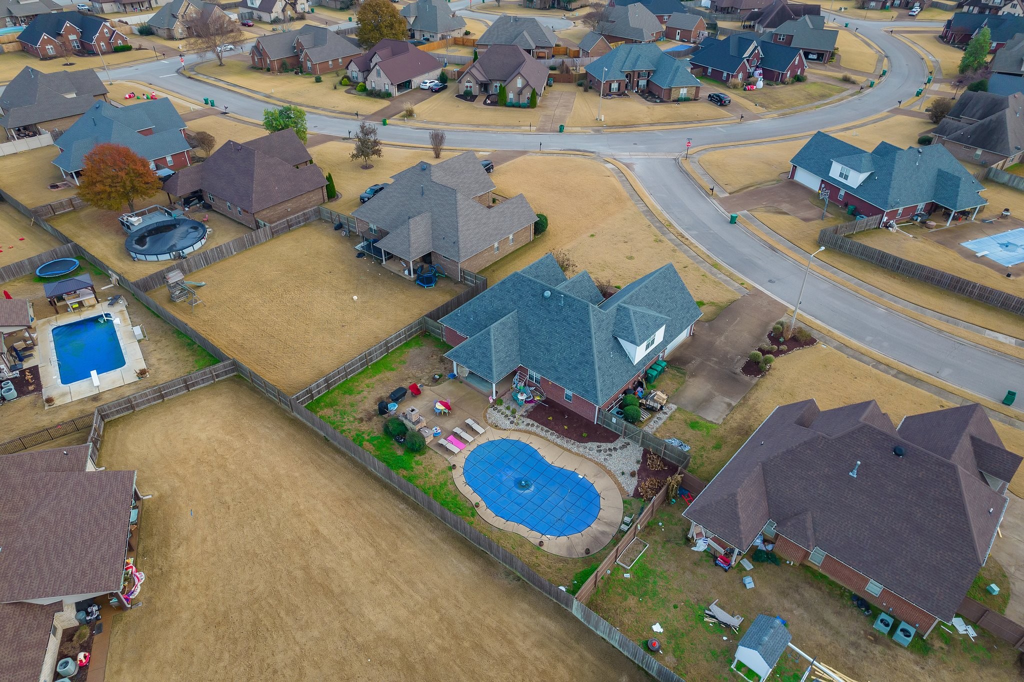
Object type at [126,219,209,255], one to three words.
swimming pool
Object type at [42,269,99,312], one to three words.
gazebo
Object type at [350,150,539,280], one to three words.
house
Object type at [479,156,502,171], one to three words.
car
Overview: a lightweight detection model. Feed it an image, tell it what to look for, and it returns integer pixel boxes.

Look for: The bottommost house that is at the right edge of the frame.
[679,390,1024,638]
